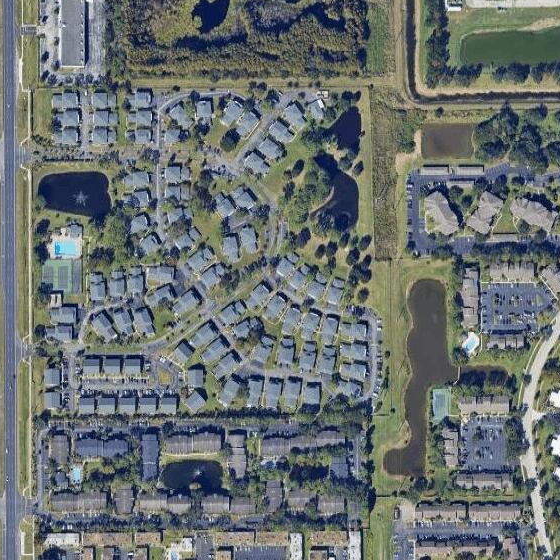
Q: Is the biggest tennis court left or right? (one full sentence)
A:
You can find the biggest tennis court on the left side of the picture.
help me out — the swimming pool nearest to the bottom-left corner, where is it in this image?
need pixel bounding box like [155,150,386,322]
[68,462,83,485]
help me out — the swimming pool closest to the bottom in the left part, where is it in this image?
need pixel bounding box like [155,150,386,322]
[165,544,193,560]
